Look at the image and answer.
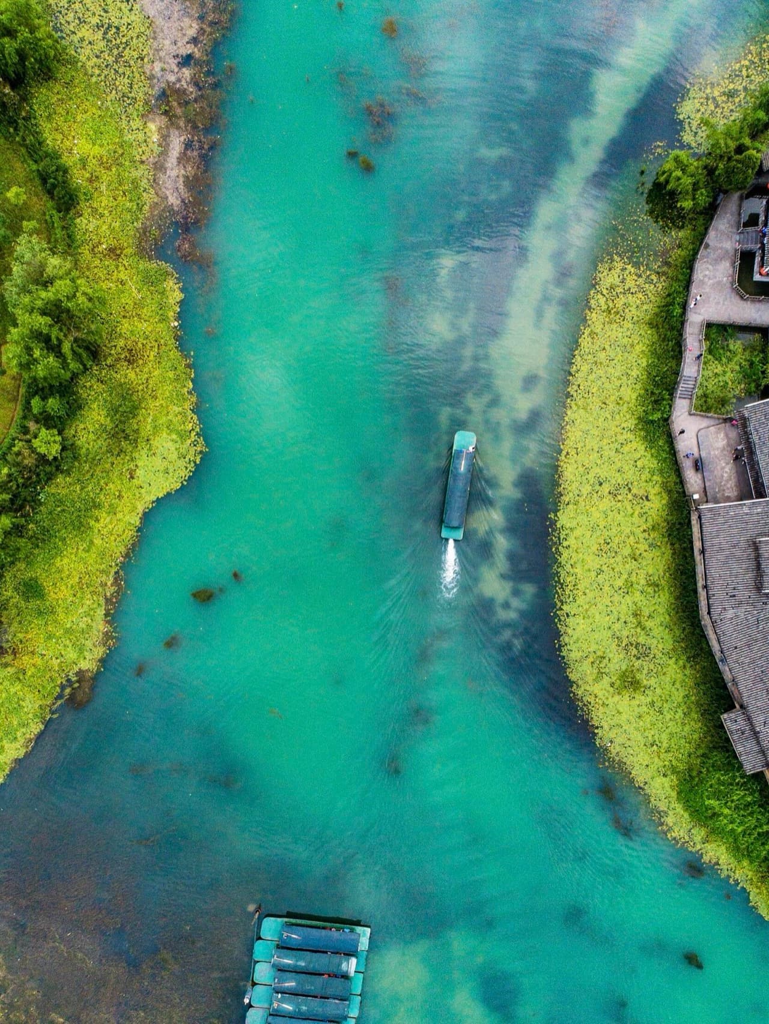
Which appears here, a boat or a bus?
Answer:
boat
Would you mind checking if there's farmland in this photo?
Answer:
No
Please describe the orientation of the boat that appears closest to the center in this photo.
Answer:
vertically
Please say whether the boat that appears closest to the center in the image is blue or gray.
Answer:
blue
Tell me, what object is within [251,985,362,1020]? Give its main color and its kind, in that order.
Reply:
blue boat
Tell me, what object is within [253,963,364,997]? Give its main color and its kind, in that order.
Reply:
blue boat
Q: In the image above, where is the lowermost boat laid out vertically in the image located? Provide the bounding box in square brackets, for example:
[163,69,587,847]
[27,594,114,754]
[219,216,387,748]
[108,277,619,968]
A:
[441,431,475,540]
